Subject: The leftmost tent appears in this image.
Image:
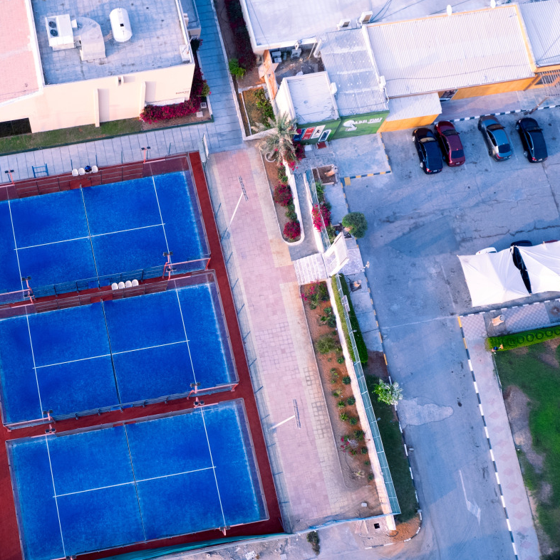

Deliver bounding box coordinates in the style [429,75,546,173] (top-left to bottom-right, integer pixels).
[457,246,533,308]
